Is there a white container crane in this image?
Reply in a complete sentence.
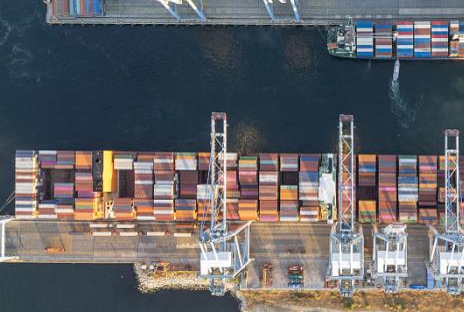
Yes, there's a white container crane here.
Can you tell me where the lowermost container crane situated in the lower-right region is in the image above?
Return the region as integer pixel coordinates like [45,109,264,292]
[367,224,415,298]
